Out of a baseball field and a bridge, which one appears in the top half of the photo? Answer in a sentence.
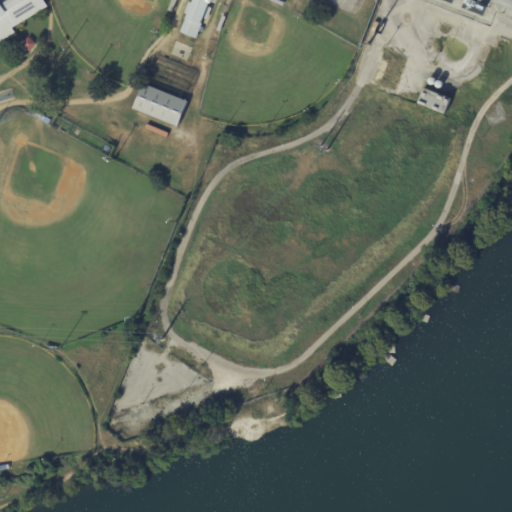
Visible in the top half of the photo is a baseball field.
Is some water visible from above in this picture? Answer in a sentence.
Yes, the picture does contain water.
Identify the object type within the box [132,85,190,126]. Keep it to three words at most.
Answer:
shed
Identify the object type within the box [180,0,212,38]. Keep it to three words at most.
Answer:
building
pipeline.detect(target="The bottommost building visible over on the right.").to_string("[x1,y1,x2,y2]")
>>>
[417,88,453,113]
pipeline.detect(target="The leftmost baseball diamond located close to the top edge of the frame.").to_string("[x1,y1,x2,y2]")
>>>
[50,0,168,85]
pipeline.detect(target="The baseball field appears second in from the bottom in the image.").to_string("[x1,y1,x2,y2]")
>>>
[0,106,190,345]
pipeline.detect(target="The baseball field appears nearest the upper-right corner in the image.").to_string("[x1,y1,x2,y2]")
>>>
[202,0,358,126]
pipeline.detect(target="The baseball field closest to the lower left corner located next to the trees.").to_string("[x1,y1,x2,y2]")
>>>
[0,336,96,464]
